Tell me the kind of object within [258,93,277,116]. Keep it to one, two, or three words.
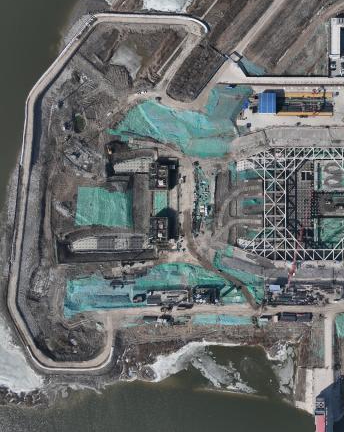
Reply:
building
